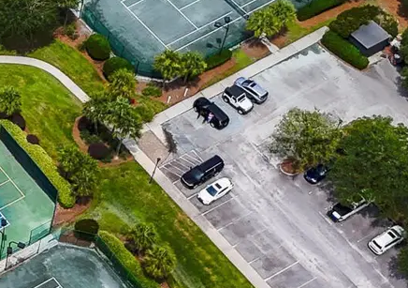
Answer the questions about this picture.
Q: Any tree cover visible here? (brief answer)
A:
Yes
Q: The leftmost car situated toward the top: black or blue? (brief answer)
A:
black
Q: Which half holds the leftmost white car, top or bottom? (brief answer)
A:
bottom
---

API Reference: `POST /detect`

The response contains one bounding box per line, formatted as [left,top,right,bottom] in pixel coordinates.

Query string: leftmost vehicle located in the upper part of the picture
[193,98,229,131]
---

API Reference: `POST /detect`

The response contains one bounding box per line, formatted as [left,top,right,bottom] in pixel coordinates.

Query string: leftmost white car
[195,177,234,205]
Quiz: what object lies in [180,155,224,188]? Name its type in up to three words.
car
